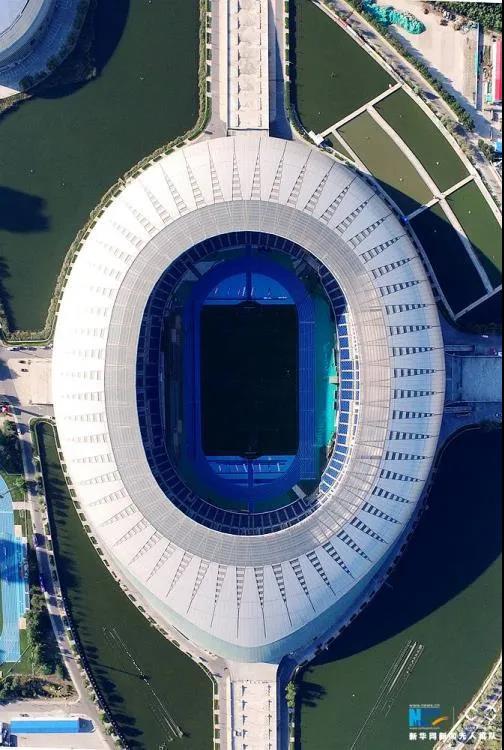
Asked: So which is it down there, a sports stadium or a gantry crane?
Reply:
sports stadium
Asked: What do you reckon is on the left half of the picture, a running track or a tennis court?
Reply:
running track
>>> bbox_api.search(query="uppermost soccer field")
[201,300,297,461]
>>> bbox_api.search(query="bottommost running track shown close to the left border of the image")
[0,475,26,660]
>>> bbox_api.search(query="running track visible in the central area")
[165,247,333,510]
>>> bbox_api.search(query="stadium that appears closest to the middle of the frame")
[52,136,445,661]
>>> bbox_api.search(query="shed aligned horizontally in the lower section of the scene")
[10,713,81,733]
